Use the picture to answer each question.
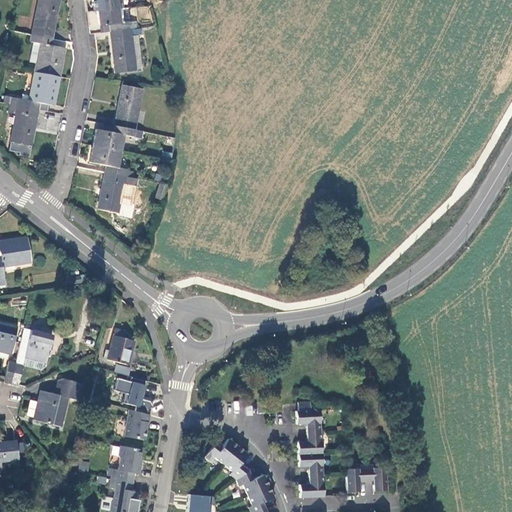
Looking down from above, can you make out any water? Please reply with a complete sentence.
No, the scene doesn't show any water.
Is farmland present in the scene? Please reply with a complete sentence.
Yes, some farmland is visible.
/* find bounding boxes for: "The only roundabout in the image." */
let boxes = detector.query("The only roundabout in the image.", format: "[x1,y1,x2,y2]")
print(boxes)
[164,296,240,368]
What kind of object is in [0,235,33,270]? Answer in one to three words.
house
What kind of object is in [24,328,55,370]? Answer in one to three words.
house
